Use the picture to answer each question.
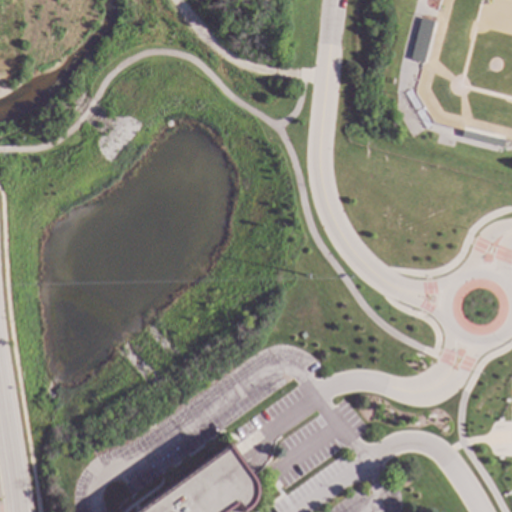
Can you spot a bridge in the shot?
No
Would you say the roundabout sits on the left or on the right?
right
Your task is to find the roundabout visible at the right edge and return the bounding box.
[422,236,512,371]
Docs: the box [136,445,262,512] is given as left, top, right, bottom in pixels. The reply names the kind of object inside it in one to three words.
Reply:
building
